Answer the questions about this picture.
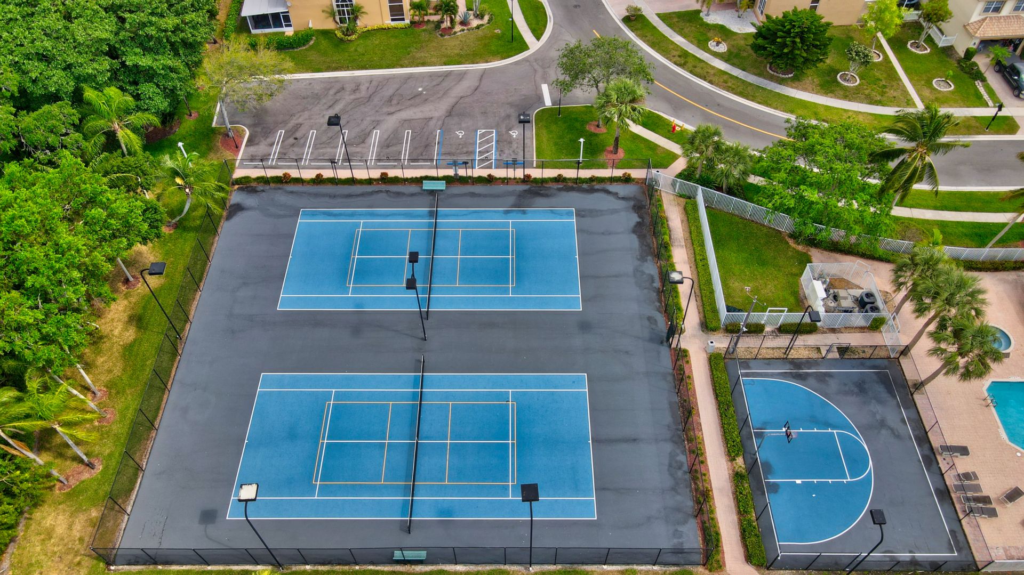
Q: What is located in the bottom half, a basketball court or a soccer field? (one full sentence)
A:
There is a basketball court in the bottom half.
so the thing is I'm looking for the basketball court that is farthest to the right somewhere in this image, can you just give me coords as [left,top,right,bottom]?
[727,358,974,570]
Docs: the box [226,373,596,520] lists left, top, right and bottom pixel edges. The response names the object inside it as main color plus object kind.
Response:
blue tennis court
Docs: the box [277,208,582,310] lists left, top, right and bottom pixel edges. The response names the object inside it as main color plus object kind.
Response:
blue tennis court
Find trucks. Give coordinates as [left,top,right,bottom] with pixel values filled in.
[997,60,1024,99]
